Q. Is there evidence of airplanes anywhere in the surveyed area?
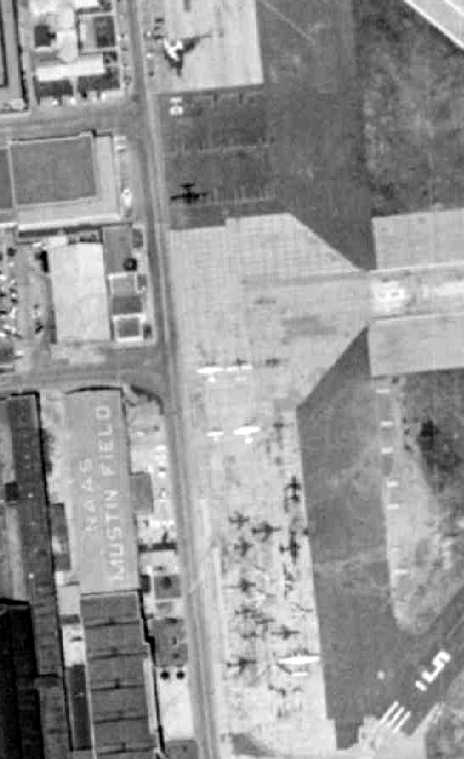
Yes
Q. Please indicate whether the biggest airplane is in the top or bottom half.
bottom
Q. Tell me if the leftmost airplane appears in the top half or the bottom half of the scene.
top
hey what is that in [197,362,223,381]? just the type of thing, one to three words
airplane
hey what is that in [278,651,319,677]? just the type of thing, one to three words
airplane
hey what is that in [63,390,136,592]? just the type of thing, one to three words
hangar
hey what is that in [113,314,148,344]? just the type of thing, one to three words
building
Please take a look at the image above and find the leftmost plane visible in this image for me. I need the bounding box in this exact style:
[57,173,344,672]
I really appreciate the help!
[170,179,206,202]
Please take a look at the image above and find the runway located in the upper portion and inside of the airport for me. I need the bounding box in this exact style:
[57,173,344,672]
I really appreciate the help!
[334,208,464,376]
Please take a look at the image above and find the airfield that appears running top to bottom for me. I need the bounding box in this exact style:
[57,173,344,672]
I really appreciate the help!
[147,0,464,759]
